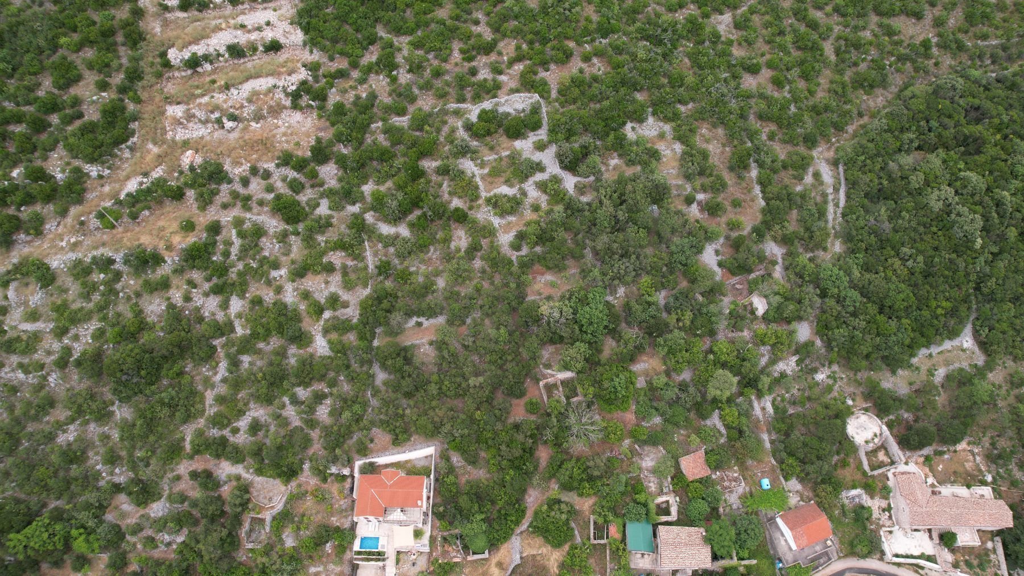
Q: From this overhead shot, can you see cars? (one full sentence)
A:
No, the frame has no car in it.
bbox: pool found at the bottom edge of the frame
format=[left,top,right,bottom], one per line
[354,536,388,551]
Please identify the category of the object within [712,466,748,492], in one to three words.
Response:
shed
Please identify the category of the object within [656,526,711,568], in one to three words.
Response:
house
